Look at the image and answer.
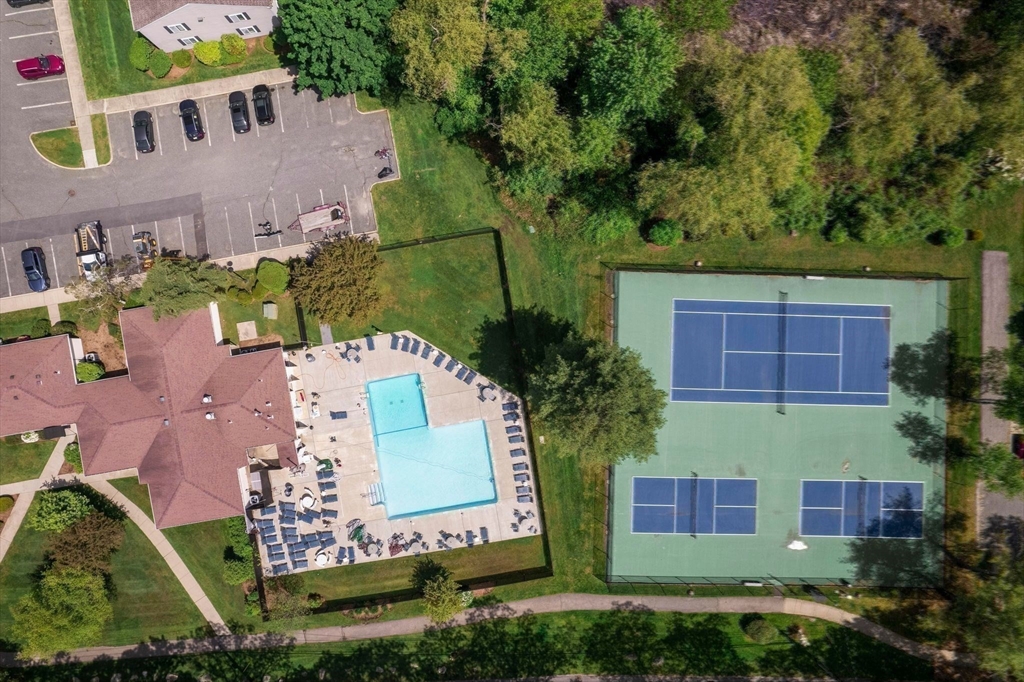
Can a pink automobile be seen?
Yes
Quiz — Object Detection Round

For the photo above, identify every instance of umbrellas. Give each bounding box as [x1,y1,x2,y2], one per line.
[389,538,402,557]
[357,544,368,554]
[317,460,333,472]
[345,519,363,543]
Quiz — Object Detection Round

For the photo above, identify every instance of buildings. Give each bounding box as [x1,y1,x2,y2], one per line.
[129,0,283,53]
[0,300,309,529]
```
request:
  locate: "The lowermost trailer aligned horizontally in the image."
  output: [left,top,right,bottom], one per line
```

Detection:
[287,203,352,233]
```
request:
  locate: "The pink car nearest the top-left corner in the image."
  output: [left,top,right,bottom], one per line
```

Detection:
[18,55,65,81]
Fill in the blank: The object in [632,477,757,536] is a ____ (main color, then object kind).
blue sports court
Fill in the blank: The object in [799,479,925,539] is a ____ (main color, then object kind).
blue sports court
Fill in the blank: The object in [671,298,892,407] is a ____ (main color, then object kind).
blue tennis court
